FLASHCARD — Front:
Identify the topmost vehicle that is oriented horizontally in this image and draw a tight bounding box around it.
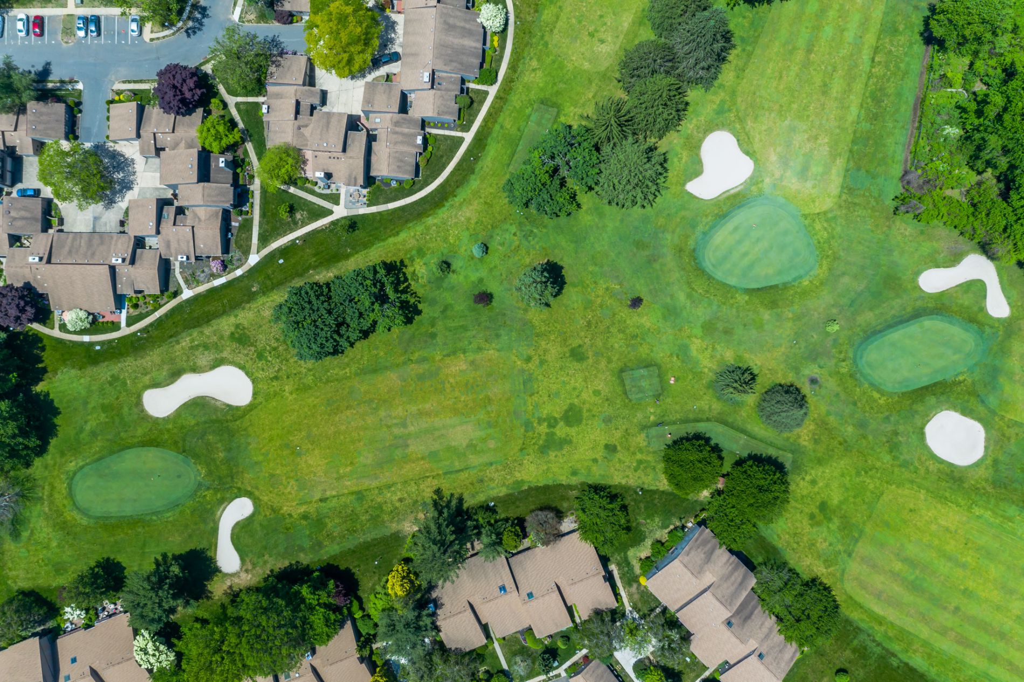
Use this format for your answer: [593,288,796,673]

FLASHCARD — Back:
[371,52,402,68]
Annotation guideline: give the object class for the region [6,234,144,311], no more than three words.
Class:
house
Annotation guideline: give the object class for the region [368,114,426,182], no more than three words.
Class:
house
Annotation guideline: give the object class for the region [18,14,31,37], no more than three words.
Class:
vehicle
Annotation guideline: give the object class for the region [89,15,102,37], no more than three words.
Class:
vehicle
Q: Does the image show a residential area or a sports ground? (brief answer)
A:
residential area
